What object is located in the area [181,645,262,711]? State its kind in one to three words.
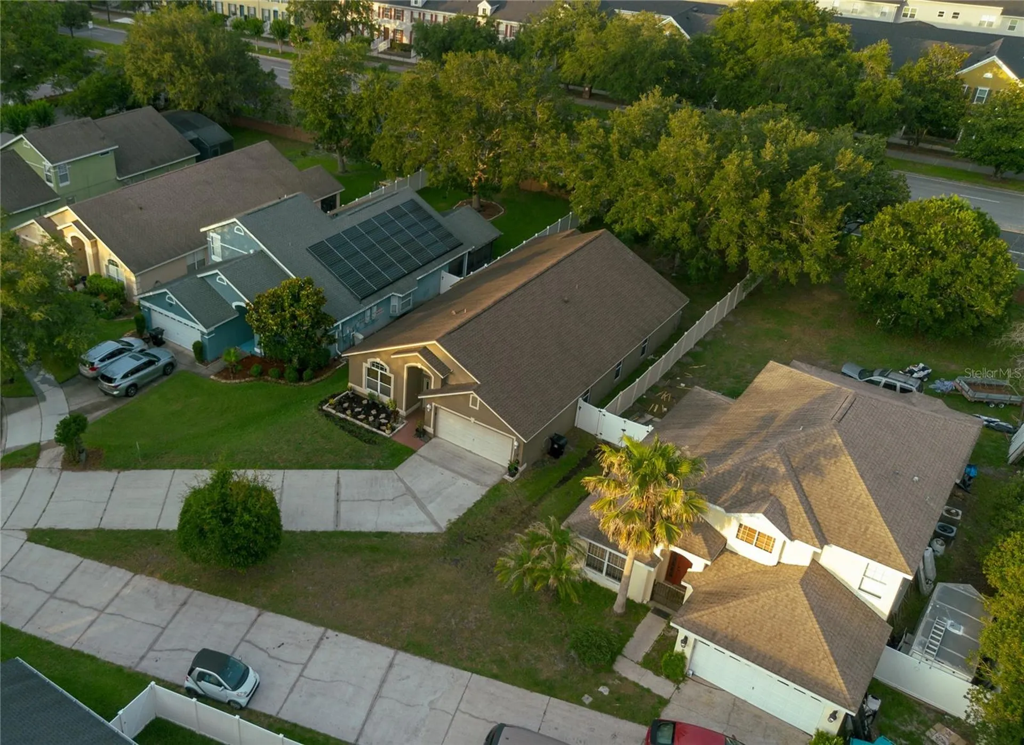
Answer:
car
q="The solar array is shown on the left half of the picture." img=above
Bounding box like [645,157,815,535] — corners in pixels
[307,199,461,300]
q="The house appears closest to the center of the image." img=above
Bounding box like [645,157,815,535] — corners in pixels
[340,229,688,473]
